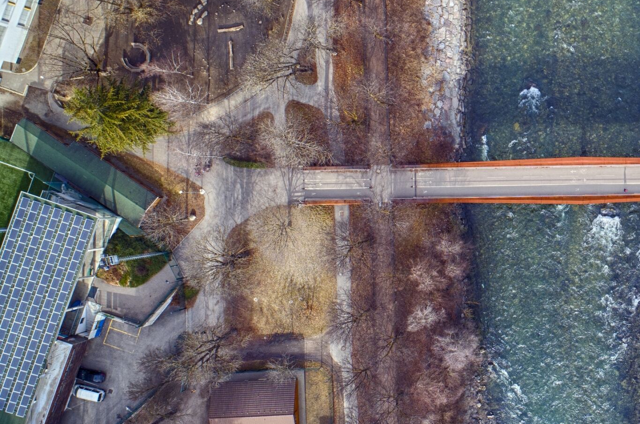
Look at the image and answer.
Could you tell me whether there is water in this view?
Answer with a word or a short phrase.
Yes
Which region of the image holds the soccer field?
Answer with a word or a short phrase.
left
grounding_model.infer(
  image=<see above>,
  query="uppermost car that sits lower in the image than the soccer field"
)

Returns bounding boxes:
[75,367,108,383]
